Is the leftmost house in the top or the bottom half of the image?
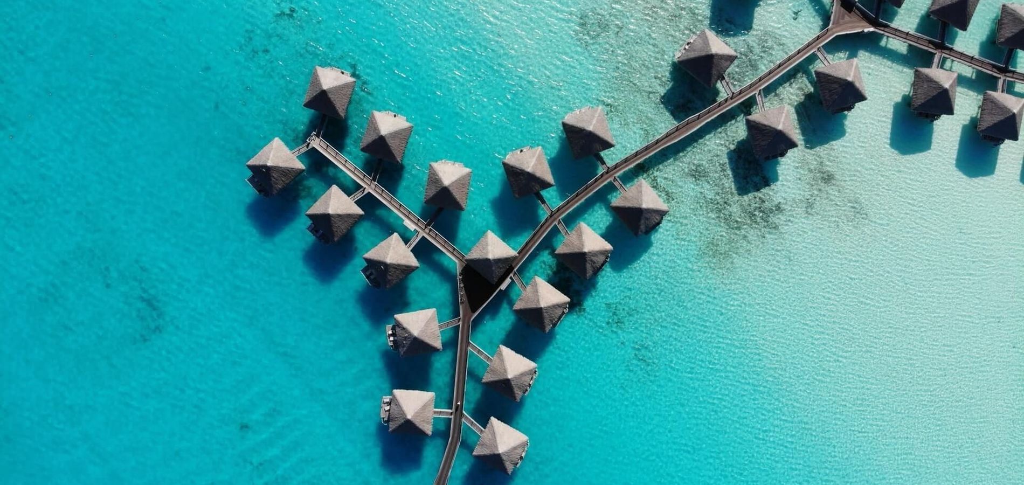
top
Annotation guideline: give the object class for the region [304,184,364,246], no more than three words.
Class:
house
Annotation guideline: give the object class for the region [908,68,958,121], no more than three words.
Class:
house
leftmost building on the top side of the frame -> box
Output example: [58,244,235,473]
[244,137,306,199]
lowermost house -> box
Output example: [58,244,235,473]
[472,418,529,475]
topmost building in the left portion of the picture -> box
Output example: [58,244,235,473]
[303,65,356,119]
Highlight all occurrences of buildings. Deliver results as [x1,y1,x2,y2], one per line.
[555,221,614,280]
[465,230,519,284]
[472,418,529,475]
[562,105,615,160]
[303,65,356,119]
[677,29,737,88]
[991,0,1024,49]
[746,105,799,161]
[502,145,556,200]
[360,109,414,164]
[926,0,981,30]
[610,178,669,237]
[815,58,868,114]
[378,389,435,435]
[386,308,442,357]
[481,345,538,402]
[423,159,472,211]
[972,90,1024,145]
[358,232,420,291]
[244,137,306,199]
[908,68,958,121]
[512,275,570,333]
[304,184,364,246]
